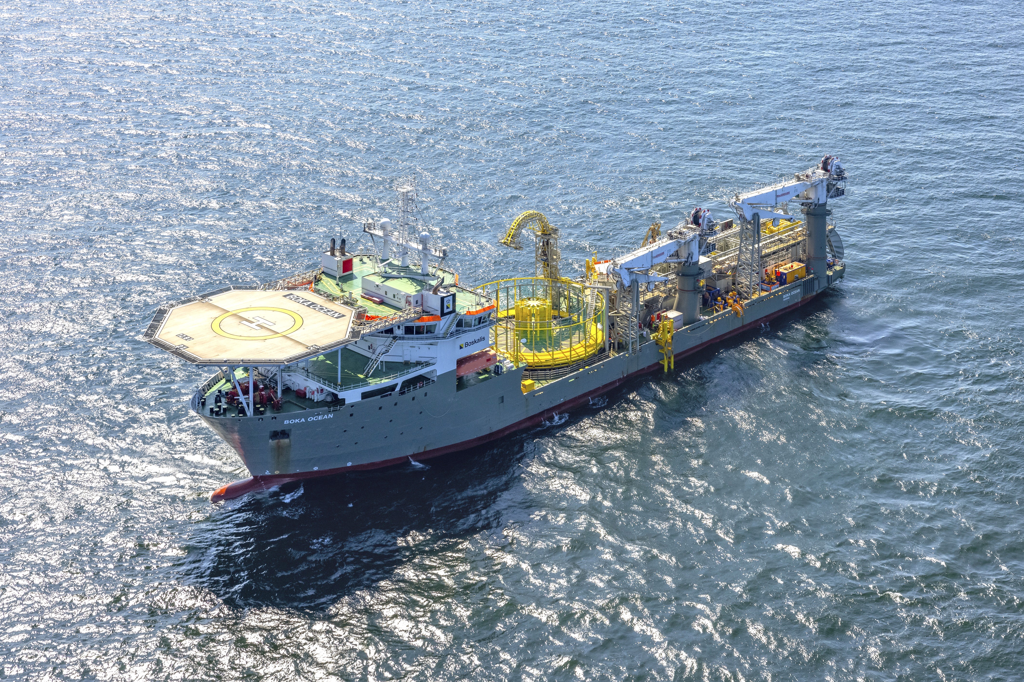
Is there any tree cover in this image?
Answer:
No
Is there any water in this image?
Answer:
Yes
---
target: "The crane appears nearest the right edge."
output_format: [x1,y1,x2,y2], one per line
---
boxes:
[722,152,854,270]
